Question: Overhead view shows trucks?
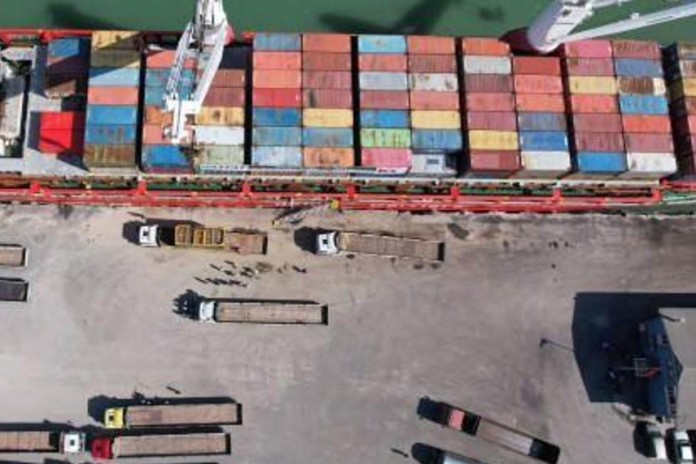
Yes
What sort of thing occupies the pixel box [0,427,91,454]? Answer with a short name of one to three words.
truck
